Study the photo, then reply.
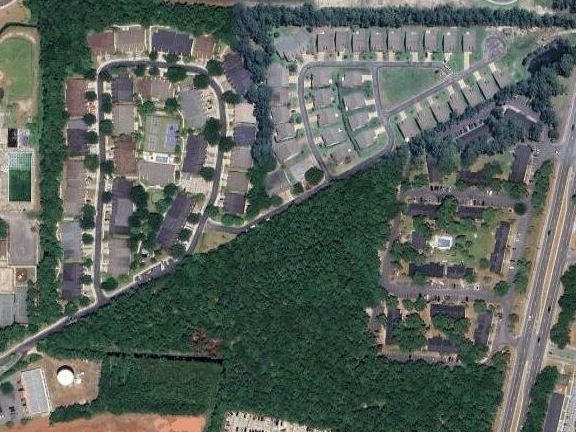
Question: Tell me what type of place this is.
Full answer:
It's a residential area.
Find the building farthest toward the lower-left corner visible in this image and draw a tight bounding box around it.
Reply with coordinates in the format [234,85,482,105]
[21,368,52,414]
